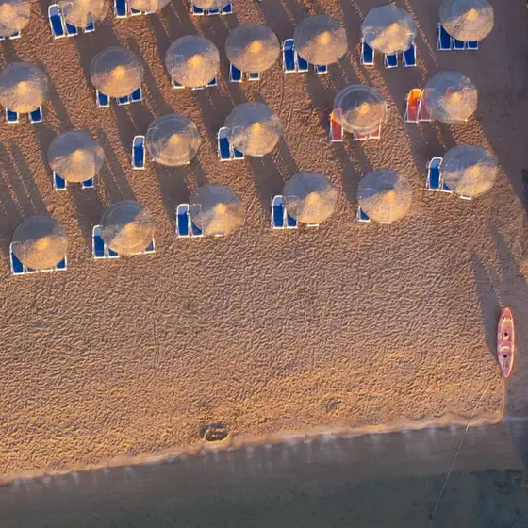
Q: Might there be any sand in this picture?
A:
Yes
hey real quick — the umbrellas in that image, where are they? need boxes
[47,131,105,184]
[437,0,494,42]
[57,0,111,27]
[279,171,337,224]
[225,24,280,72]
[145,116,200,167]
[331,85,387,133]
[224,103,282,154]
[0,0,31,37]
[98,200,154,253]
[12,217,68,270]
[424,72,480,123]
[124,0,171,14]
[441,144,499,196]
[88,47,144,97]
[292,15,348,65]
[357,170,414,223]
[164,37,219,87]
[187,183,245,237]
[361,5,417,53]
[0,64,50,112]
